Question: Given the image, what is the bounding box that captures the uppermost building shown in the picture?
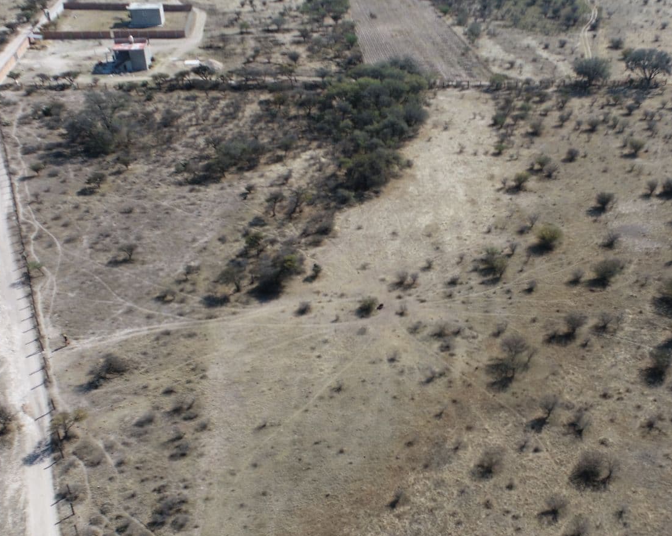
[123,0,164,27]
